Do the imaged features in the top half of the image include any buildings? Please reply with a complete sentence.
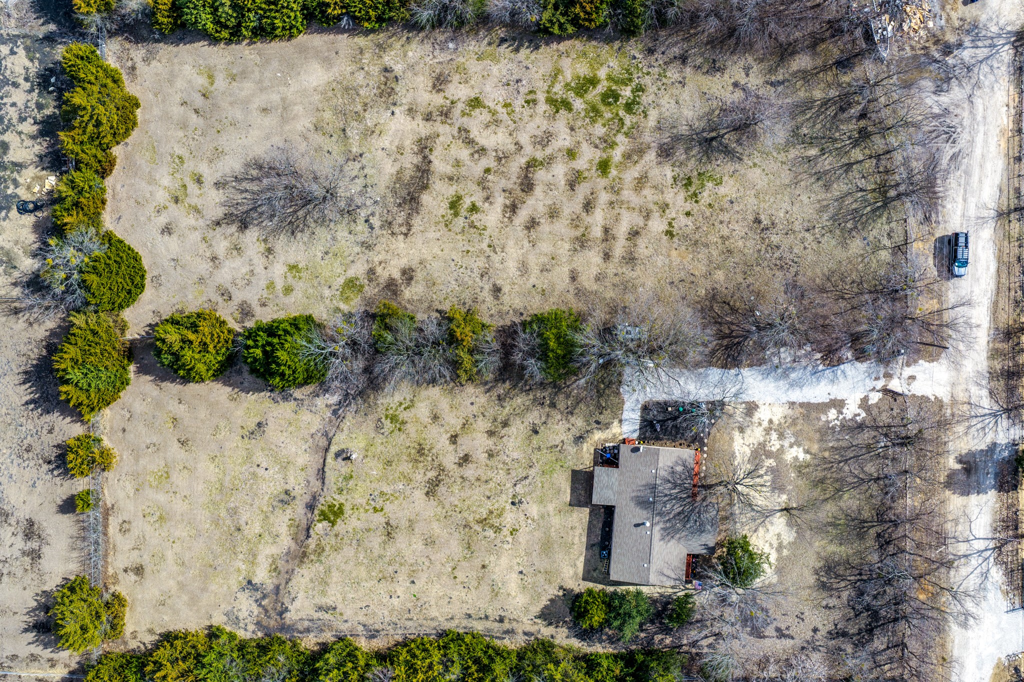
No, there is no building in the top half of the image.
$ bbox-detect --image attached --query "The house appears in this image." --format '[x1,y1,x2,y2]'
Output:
[592,444,718,586]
